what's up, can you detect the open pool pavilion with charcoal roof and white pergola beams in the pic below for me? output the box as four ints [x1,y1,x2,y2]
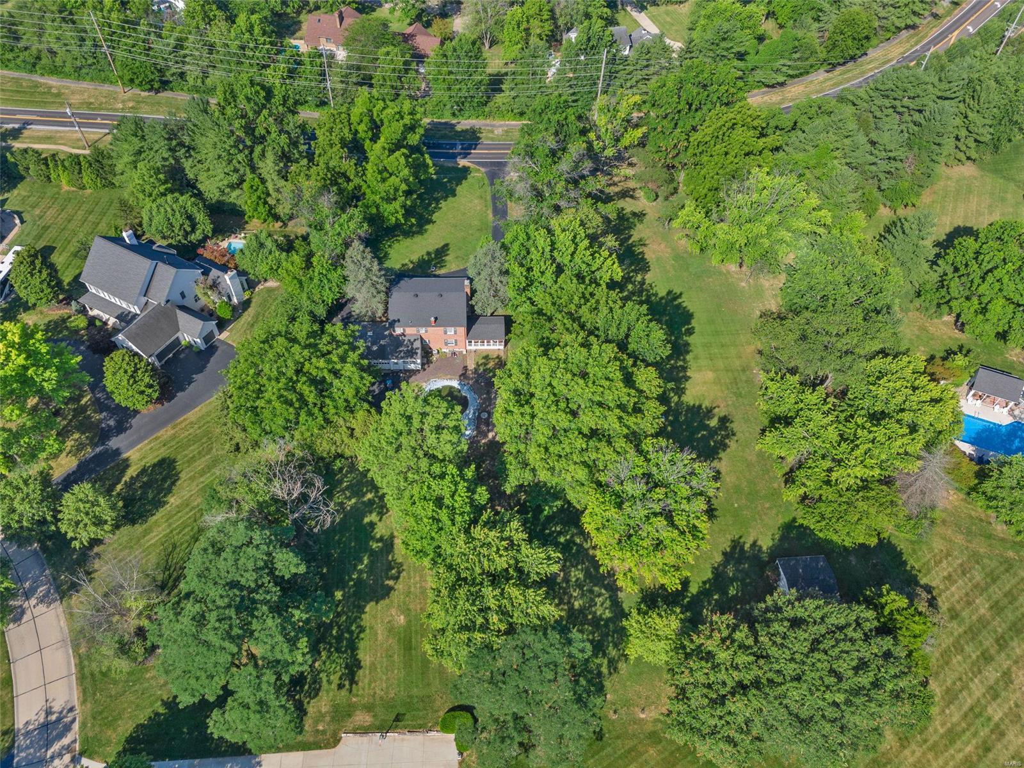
[962,363,1024,426]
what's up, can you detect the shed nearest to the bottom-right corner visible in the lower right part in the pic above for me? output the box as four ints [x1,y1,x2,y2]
[769,556,840,601]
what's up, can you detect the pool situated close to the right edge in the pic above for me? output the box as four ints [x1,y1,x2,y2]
[949,396,1024,480]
